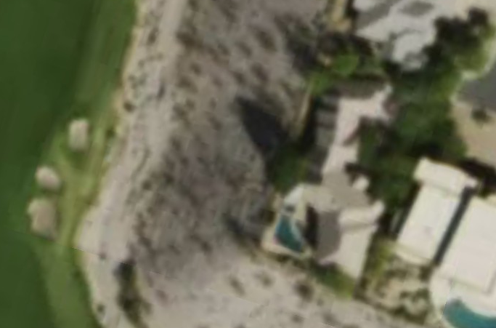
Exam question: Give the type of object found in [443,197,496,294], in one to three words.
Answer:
house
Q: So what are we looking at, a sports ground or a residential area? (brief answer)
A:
residential area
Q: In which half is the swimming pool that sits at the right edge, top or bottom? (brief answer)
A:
bottom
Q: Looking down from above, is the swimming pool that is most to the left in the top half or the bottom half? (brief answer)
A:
bottom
